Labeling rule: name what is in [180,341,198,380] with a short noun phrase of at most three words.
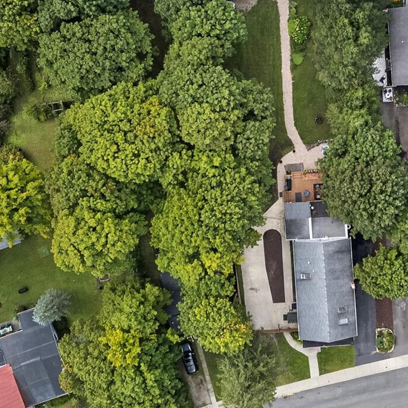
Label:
vehicle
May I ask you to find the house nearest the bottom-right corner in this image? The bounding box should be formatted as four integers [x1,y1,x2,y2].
[285,201,357,350]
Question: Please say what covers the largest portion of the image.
trees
